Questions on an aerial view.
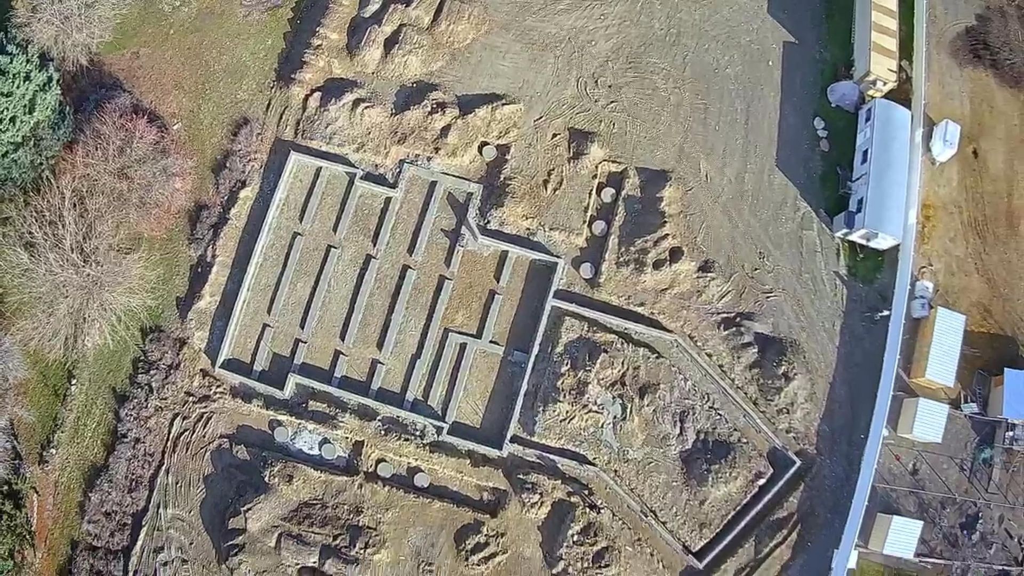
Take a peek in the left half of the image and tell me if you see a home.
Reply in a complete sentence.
No, no home appears in the left half of the image.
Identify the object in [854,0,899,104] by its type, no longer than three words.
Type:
trailer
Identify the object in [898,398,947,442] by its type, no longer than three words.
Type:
shed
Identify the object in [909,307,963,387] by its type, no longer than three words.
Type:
shed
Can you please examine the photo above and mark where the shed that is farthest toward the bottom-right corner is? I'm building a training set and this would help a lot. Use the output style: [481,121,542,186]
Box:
[870,511,921,558]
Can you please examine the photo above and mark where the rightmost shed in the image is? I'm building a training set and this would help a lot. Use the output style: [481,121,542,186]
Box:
[982,368,1024,421]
